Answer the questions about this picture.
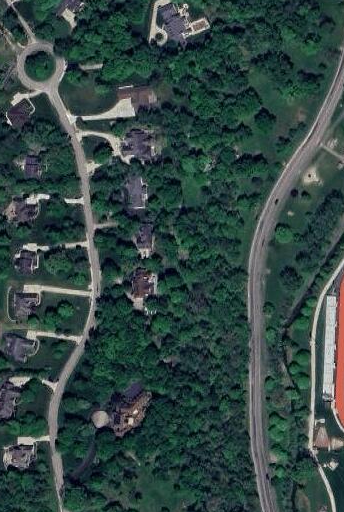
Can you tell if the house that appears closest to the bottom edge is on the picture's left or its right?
left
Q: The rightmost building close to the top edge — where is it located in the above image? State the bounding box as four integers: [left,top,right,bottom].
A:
[159,1,187,37]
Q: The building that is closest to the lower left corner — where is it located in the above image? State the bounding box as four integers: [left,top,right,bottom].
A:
[8,448,33,468]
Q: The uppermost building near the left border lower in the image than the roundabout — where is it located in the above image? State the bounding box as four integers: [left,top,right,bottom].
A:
[7,101,32,126]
